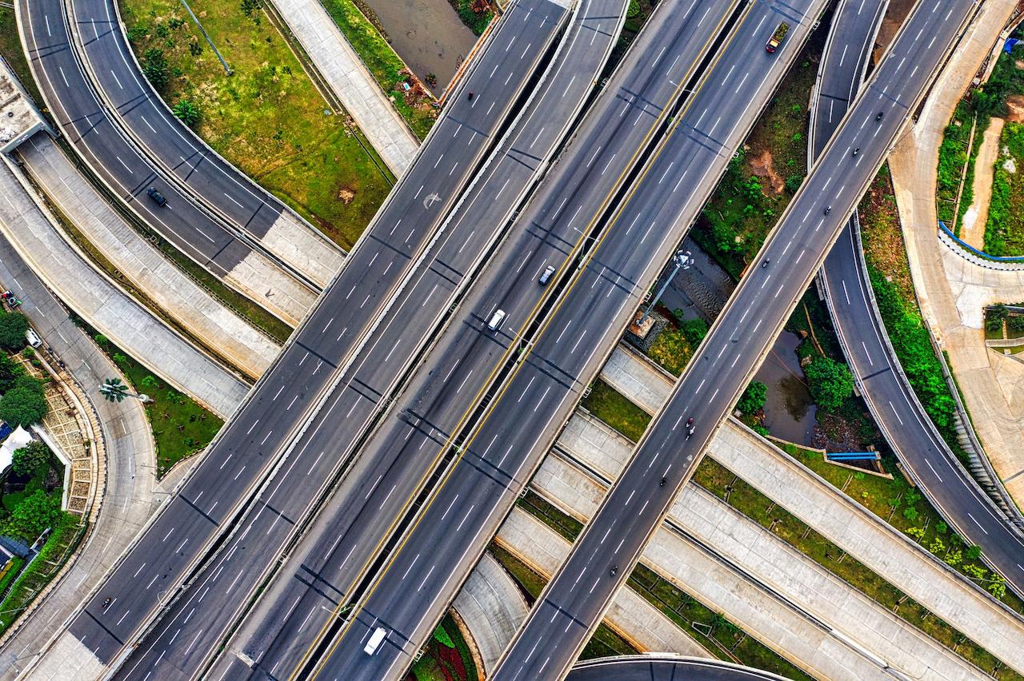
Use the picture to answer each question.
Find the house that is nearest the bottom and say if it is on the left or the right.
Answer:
left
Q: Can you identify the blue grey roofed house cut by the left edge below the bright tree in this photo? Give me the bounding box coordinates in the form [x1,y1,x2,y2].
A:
[0,540,34,572]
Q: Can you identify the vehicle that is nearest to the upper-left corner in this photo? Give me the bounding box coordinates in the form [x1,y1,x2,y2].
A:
[144,185,166,206]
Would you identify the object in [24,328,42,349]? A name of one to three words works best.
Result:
vehicle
